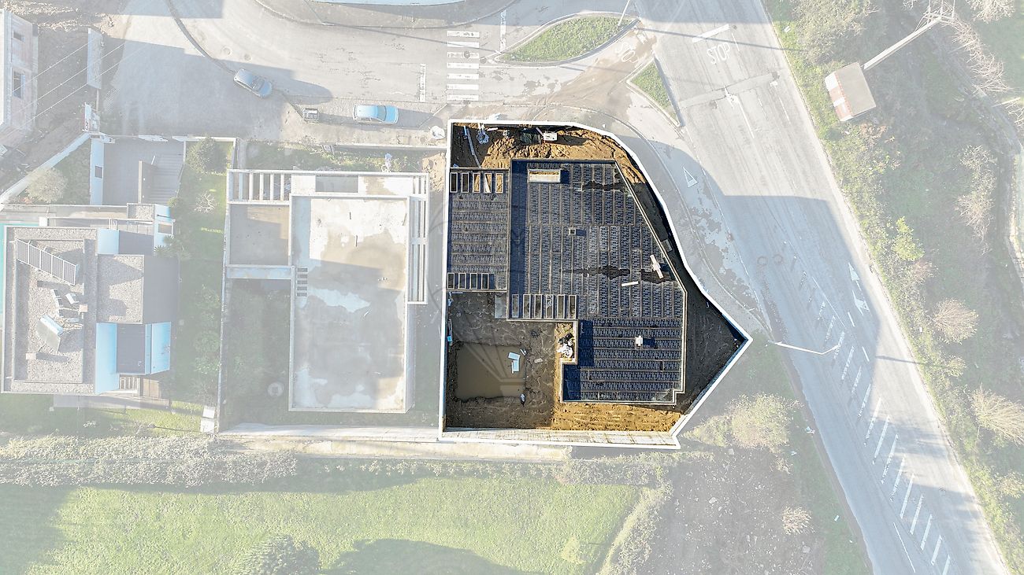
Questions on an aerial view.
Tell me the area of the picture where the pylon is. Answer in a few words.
top right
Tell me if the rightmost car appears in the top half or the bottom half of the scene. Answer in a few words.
top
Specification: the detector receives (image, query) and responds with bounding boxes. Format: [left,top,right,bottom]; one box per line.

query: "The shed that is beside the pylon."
[822,63,876,123]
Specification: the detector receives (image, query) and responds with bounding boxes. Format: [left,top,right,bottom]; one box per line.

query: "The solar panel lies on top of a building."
[16,235,88,284]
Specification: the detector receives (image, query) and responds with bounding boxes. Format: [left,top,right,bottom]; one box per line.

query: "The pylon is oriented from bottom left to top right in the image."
[861,0,956,74]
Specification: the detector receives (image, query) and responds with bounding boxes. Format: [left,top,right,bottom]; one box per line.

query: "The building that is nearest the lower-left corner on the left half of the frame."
[2,203,181,408]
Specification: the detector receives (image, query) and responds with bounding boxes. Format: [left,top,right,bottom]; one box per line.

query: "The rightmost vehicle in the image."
[352,100,397,122]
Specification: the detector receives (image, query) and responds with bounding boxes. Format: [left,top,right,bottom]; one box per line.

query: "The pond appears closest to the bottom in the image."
[455,344,526,400]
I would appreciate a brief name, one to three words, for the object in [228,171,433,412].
house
